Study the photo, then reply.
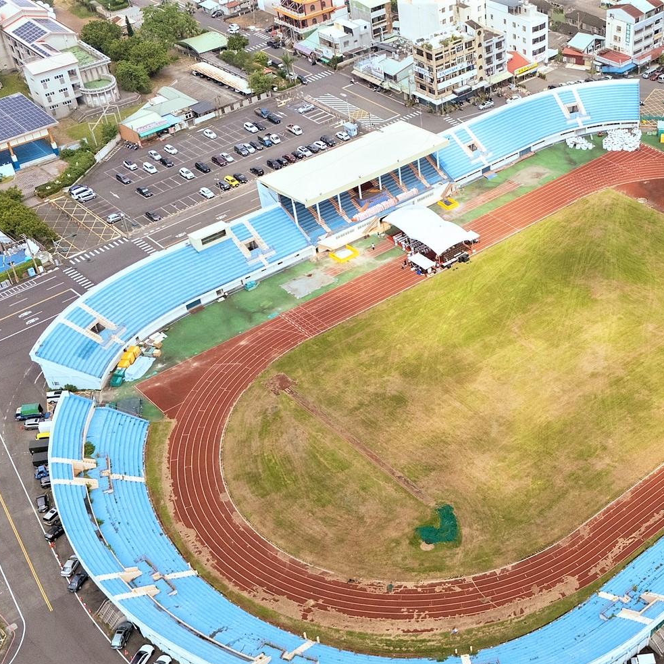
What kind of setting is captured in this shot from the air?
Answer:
sports ground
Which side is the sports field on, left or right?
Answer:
right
